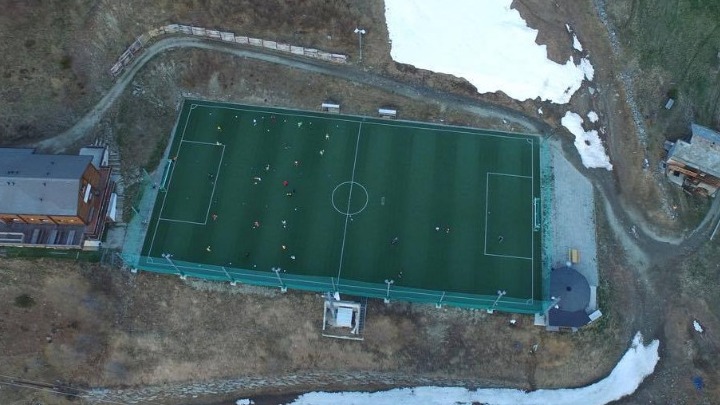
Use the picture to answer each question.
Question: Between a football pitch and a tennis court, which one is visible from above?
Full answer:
There is a football pitch in the scene.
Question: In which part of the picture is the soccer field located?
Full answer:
Look in the center portion of the view to spot the soccer field.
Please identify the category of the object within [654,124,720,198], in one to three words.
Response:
barn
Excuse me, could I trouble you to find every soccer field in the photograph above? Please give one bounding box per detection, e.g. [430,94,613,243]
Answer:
[136,97,542,312]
